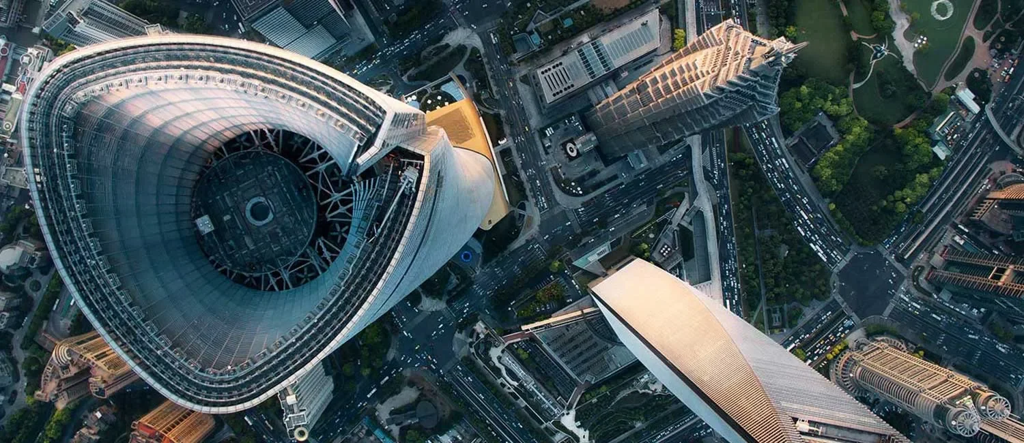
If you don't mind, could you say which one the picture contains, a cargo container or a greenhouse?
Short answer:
greenhouse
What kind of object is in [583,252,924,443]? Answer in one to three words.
building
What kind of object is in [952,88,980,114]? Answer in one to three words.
shed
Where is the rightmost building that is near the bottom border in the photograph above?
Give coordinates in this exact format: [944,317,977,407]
[833,335,1012,443]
